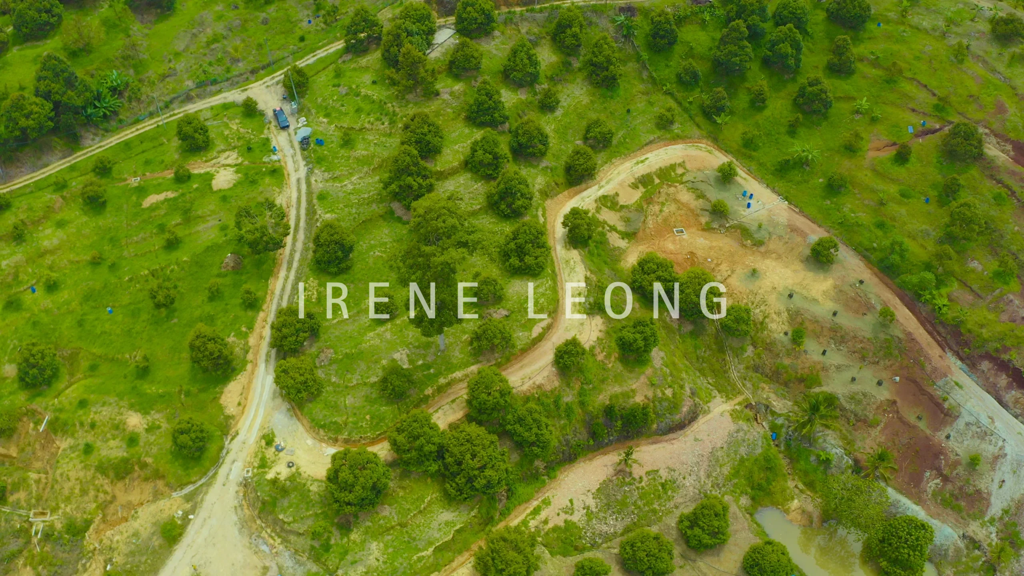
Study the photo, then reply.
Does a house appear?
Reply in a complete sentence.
No, the photo shows no house.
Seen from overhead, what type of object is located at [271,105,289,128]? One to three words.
vehicle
